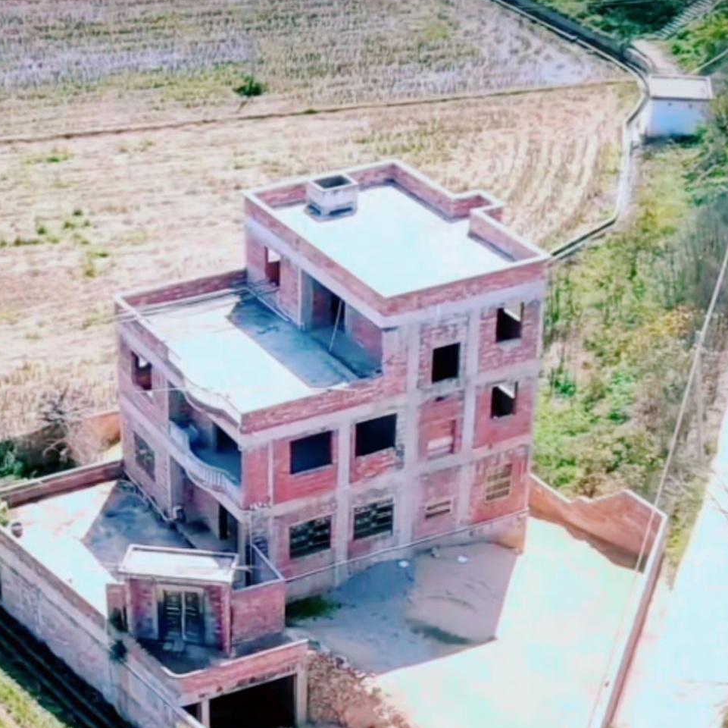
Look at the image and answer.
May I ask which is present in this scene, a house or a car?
house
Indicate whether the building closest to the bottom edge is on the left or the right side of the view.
left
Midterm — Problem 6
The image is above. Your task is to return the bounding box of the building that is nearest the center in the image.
[116,163,548,612]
